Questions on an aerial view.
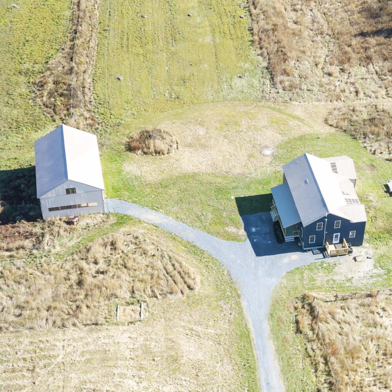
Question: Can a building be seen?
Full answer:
Yes, there's a building here.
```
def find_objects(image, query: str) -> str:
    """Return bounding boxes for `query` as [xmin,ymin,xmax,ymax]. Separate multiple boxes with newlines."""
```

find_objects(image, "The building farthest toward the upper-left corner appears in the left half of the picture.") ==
[34,123,105,218]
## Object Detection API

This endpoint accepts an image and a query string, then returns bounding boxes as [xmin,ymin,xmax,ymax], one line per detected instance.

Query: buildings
[269,151,368,249]
[34,123,105,218]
